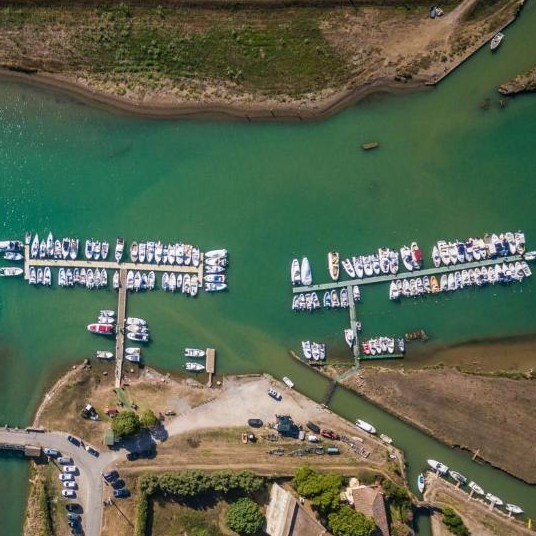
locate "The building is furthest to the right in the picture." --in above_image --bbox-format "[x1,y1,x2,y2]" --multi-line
[346,477,391,536]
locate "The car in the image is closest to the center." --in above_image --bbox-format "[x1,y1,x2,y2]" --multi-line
[267,388,283,401]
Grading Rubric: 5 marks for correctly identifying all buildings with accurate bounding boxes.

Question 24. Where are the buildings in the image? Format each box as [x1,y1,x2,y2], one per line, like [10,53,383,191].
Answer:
[260,478,330,536]
[346,477,391,536]
[274,416,294,433]
[103,427,114,445]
